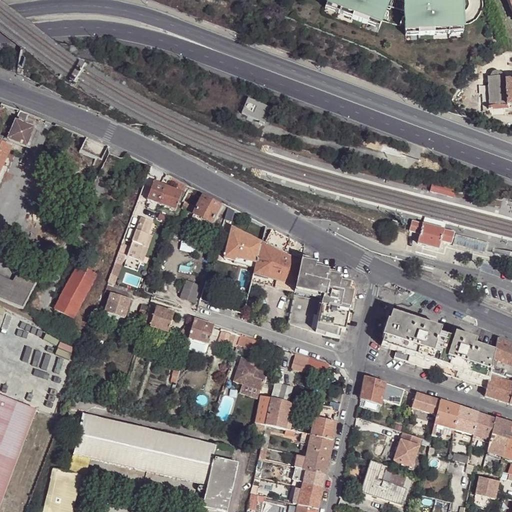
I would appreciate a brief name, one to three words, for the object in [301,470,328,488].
house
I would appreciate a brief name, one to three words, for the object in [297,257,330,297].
building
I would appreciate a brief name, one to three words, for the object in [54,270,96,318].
barn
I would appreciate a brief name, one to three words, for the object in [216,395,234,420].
swimming pool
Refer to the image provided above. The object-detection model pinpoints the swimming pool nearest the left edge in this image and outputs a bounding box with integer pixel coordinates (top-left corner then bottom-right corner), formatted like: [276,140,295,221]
[122,272,141,289]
